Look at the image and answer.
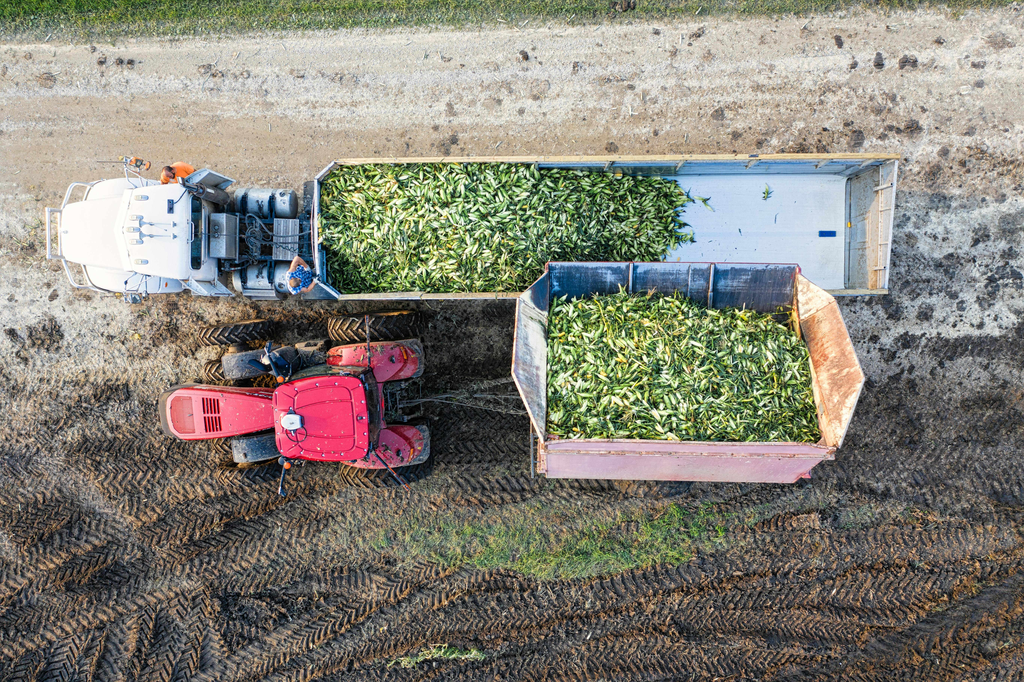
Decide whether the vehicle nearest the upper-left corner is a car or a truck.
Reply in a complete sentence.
The vehicle nearest the upper-left corner in the image is a truck.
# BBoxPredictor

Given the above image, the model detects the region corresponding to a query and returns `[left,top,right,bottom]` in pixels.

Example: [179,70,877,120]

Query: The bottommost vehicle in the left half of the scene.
[159,313,438,498]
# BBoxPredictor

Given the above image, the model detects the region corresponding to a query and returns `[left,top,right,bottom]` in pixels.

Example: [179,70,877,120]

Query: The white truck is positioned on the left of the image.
[45,156,348,306]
